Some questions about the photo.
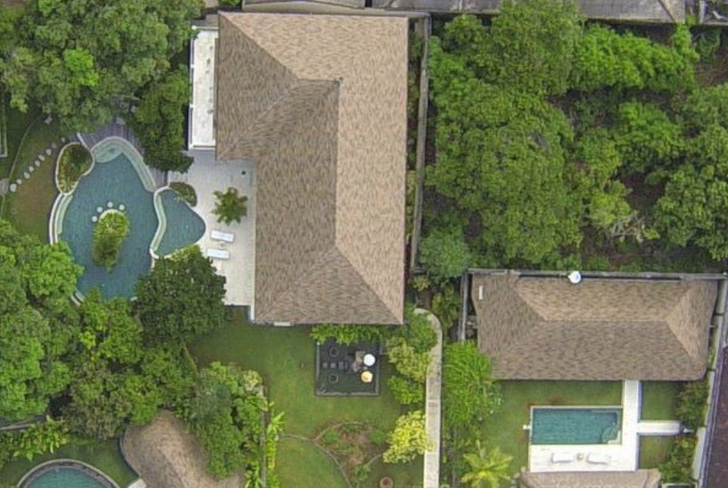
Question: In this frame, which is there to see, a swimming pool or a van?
swimming pool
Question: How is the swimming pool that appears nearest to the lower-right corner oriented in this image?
from left to right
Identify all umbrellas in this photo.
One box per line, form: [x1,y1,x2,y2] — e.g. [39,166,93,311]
[358,369,371,382]
[363,353,375,366]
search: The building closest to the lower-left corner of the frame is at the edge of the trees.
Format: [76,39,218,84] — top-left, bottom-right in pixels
[120,415,248,488]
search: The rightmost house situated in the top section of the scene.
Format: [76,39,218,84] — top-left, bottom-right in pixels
[216,12,408,326]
